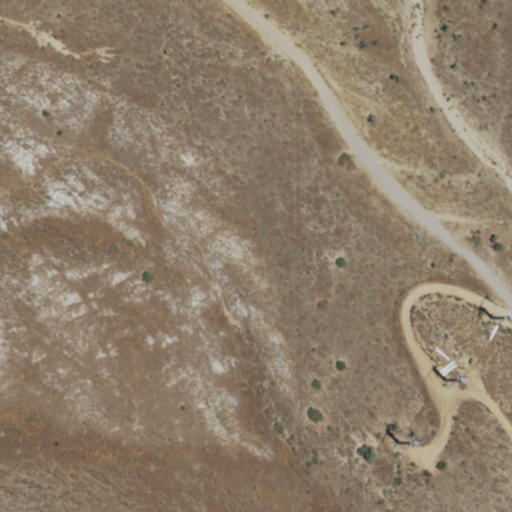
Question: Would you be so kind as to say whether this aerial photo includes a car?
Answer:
No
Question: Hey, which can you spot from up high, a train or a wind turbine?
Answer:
wind turbine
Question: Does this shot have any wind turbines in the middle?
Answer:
No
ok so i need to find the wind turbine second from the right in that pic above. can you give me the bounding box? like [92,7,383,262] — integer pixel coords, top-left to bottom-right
[443,363,470,392]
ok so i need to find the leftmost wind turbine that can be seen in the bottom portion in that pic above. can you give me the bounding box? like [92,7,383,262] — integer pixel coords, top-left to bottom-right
[396,425,422,460]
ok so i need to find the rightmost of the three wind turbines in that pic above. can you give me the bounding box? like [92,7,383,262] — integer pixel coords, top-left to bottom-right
[490,307,512,336]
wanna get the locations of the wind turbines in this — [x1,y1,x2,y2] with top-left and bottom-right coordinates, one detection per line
[396,425,422,460]
[490,307,512,336]
[443,363,470,392]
